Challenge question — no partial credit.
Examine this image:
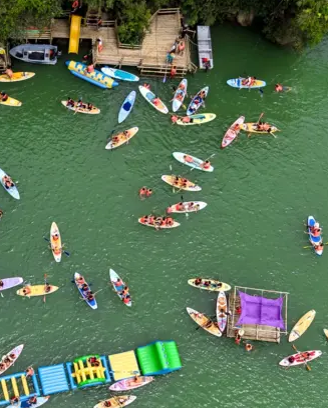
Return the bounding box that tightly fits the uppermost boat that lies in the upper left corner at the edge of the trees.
[10,44,64,63]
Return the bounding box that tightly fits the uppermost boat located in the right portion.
[197,25,225,72]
